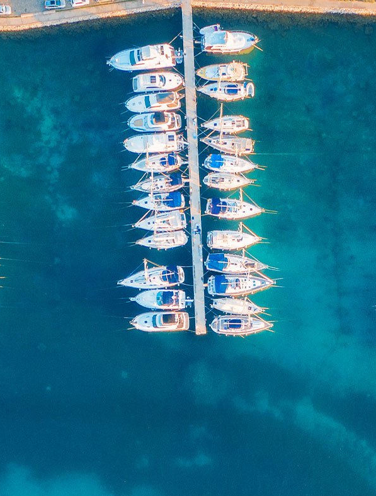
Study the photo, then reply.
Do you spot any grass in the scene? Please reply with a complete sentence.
No, grass can't be seen anywhere here.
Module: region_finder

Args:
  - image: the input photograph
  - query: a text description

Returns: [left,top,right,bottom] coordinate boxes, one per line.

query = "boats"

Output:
[200,120,264,157]
[192,27,263,53]
[195,247,273,274]
[197,222,273,250]
[119,165,193,193]
[120,308,199,332]
[195,189,272,221]
[112,131,193,154]
[97,41,187,73]
[127,287,196,311]
[118,260,195,290]
[198,265,283,295]
[121,141,190,173]
[193,163,259,191]
[136,224,199,250]
[203,293,276,316]
[199,104,258,134]
[121,206,195,232]
[197,68,254,100]
[197,65,246,82]
[123,184,195,212]
[115,91,184,114]
[124,110,192,132]
[125,72,186,94]
[206,309,277,335]
[194,144,260,173]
